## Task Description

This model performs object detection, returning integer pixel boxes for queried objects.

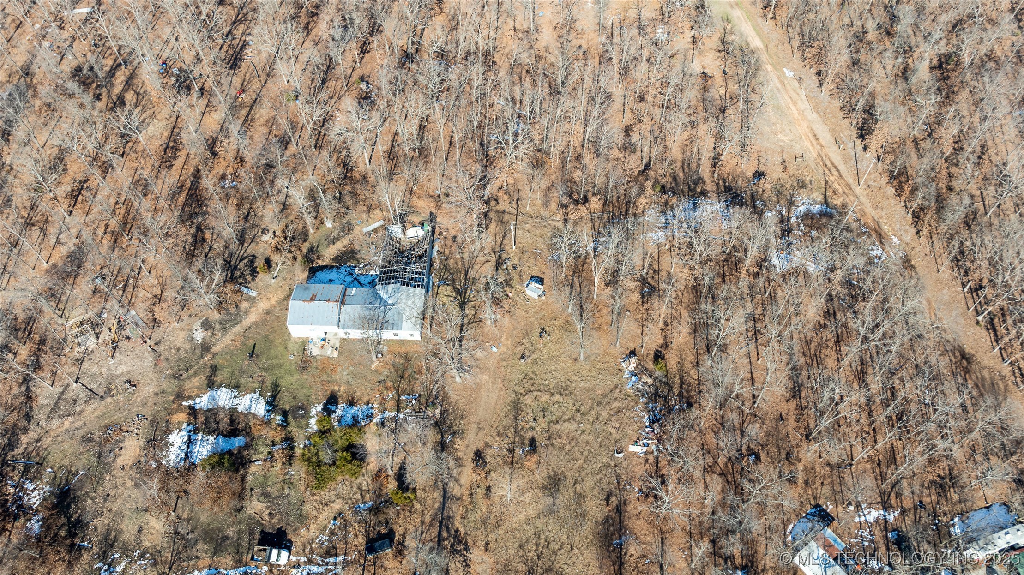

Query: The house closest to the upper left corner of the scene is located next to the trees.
[285,224,435,340]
